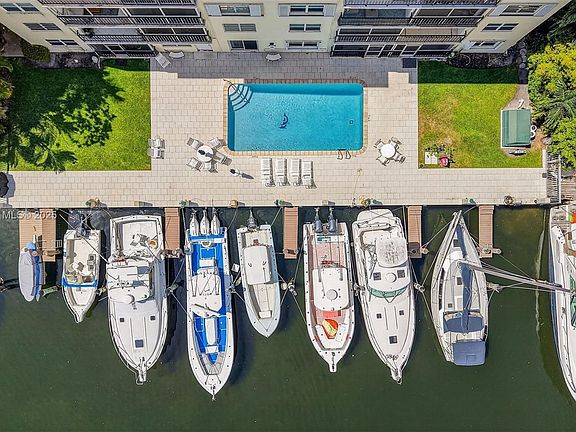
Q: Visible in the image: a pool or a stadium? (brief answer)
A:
pool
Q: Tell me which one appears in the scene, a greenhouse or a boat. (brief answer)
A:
boat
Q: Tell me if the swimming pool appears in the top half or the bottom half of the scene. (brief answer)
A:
top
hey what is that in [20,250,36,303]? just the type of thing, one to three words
boat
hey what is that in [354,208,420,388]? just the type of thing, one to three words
boat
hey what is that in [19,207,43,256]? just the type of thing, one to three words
pier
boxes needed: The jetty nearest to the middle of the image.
[283,207,298,259]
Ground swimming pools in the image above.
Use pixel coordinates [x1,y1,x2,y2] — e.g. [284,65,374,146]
[223,78,368,156]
